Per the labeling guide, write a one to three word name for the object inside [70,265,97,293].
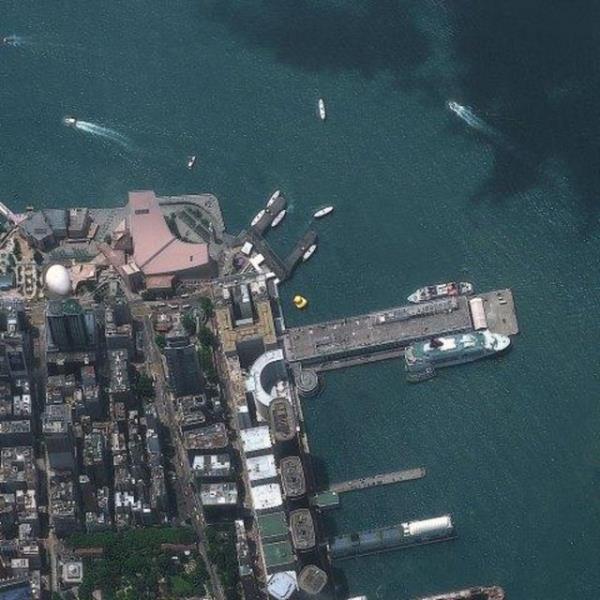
building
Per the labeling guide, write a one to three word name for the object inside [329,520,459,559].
pier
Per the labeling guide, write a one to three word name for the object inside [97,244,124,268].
building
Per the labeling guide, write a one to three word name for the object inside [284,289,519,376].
pier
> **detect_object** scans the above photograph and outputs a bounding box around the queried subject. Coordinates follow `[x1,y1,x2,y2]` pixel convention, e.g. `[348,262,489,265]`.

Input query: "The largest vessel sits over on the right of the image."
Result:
[405,332,511,369]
